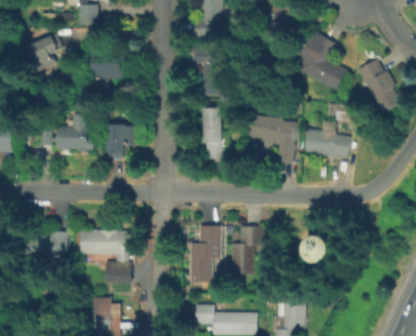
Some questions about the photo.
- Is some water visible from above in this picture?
No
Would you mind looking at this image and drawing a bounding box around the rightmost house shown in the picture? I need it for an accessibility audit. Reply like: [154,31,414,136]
[358,58,400,108]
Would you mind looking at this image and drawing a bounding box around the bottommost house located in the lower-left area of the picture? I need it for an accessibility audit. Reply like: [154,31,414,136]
[92,296,122,336]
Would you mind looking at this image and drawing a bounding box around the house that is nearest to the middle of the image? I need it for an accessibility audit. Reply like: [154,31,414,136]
[201,108,224,158]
